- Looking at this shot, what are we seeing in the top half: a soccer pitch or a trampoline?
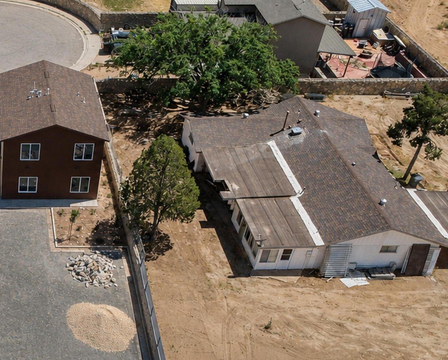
trampoline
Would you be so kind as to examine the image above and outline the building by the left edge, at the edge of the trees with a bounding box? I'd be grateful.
[0,59,109,199]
